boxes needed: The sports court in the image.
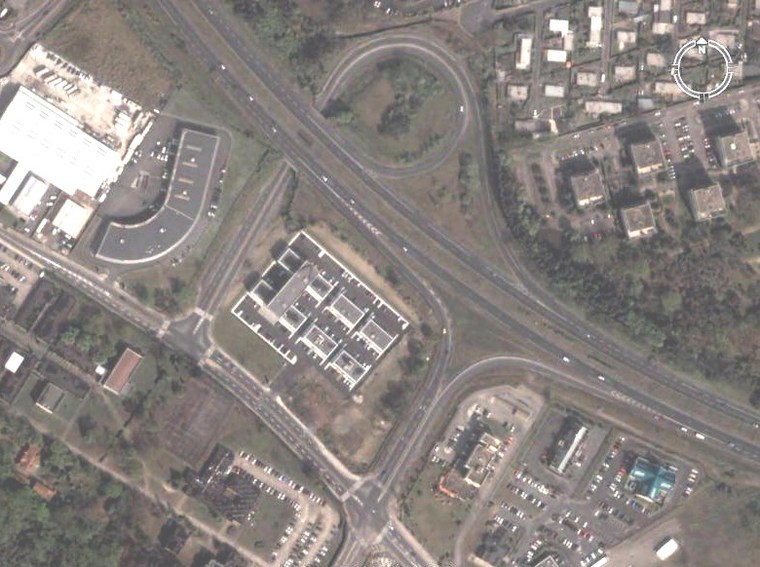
[165,383,235,459]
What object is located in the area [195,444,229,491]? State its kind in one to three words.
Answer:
building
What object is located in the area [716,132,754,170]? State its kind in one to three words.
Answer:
building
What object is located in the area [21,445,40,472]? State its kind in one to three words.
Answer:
house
